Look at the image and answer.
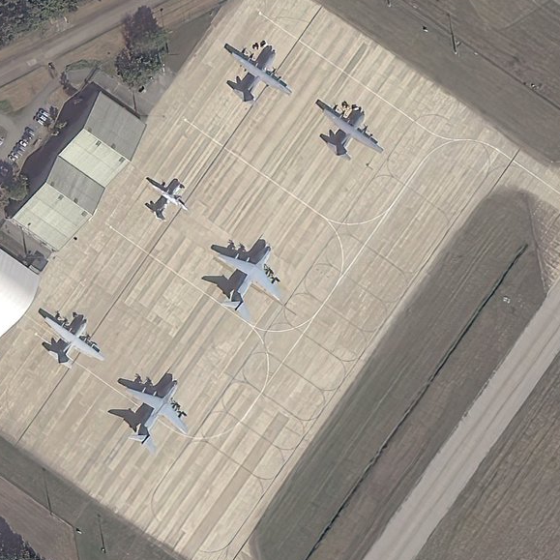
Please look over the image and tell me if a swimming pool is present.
No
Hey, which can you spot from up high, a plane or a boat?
plane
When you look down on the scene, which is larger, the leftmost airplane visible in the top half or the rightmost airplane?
the rightmost airplane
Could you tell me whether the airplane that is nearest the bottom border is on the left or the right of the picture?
left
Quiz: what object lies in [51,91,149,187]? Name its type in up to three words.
hangar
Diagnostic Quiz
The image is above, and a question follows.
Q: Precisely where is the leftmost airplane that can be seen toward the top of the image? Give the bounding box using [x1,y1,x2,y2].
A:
[150,184,189,219]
